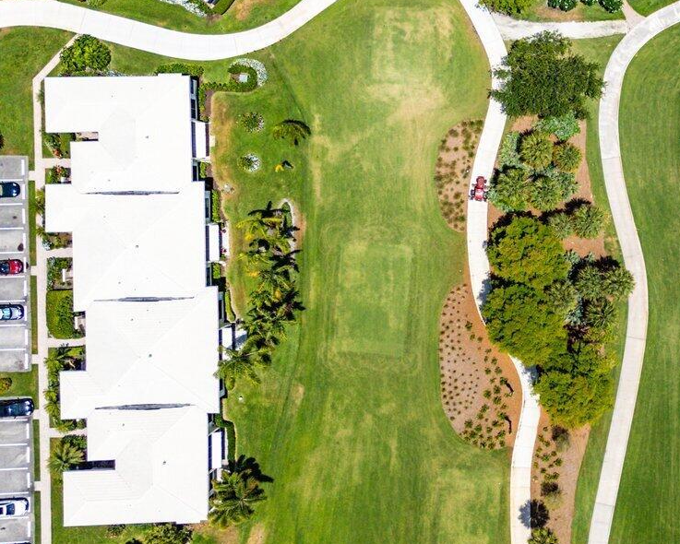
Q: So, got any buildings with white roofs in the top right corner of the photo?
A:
No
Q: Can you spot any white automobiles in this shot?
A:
Yes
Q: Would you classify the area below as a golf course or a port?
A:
golf course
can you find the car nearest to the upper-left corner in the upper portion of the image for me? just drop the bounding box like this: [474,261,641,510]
[0,180,23,201]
